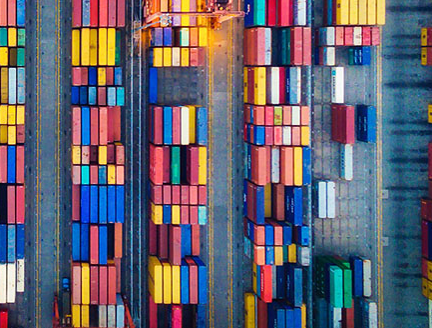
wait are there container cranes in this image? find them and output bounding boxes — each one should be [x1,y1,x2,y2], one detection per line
[54,293,137,328]
[142,0,245,26]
